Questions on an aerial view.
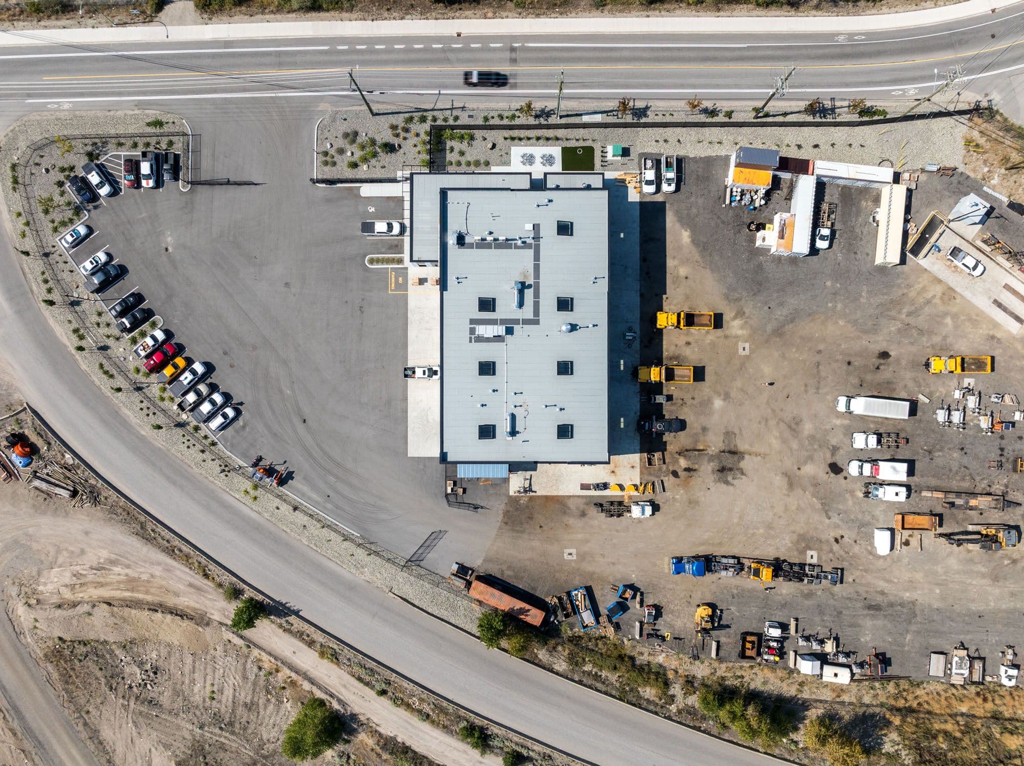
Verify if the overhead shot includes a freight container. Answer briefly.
Yes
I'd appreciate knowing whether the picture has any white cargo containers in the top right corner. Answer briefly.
Yes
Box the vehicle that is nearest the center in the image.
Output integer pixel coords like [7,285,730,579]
[403,365,440,380]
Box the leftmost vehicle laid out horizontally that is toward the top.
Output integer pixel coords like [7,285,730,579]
[361,219,400,235]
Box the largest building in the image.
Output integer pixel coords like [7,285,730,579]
[403,165,611,478]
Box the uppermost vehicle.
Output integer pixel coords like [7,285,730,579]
[466,67,507,85]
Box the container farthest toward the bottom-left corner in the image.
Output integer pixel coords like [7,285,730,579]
[470,575,547,627]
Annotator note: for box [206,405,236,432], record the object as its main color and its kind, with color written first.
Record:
white car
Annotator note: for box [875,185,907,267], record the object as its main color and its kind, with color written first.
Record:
white shipping container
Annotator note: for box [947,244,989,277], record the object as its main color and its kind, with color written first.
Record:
white truck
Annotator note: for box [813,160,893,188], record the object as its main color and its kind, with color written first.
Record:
white shipping container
